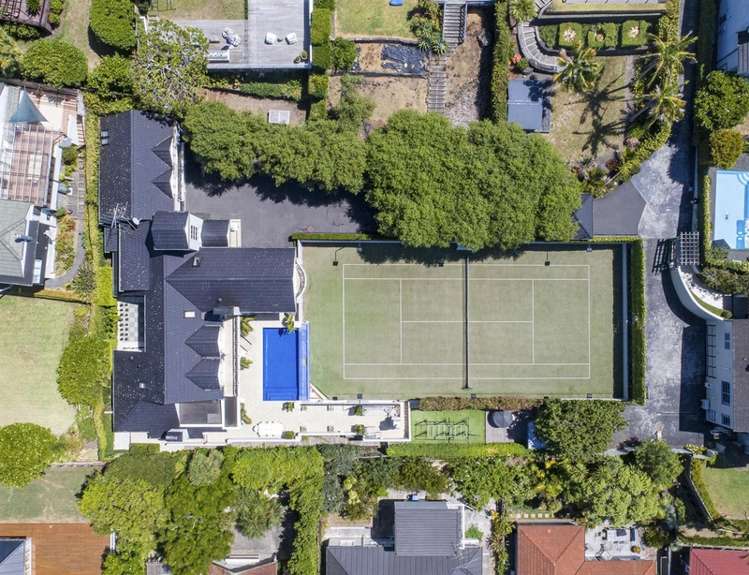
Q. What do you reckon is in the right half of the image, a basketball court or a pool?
pool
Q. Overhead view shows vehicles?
No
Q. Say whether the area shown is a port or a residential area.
residential area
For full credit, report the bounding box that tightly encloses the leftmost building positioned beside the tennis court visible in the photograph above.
[98,110,311,452]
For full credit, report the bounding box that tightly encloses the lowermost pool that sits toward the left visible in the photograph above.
[263,325,312,401]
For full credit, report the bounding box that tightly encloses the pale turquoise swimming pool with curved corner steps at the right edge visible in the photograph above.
[710,162,749,252]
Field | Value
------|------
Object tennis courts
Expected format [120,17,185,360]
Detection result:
[304,243,622,402]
